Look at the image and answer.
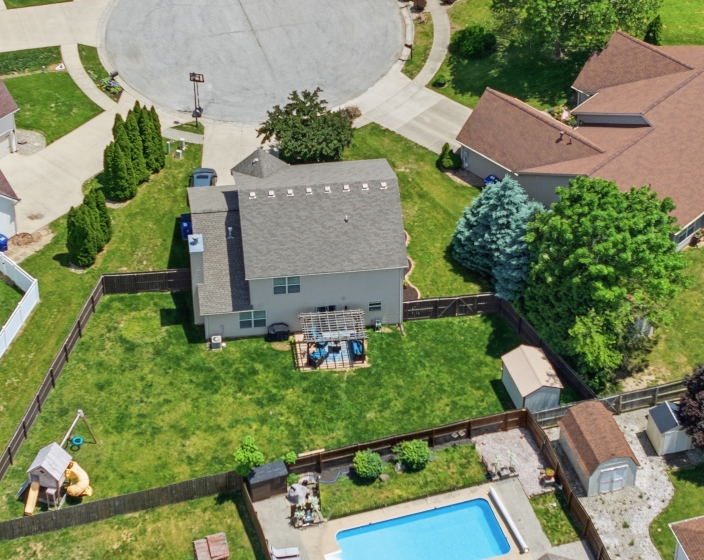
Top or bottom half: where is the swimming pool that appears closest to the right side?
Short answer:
bottom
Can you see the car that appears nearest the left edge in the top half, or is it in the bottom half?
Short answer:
top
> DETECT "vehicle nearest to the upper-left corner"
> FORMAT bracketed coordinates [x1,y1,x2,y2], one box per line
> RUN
[186,166,218,212]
